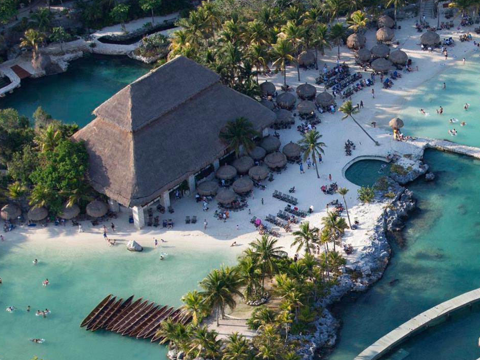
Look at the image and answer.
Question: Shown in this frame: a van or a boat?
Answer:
boat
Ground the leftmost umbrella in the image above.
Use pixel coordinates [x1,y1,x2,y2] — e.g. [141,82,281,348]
[0,205,23,226]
